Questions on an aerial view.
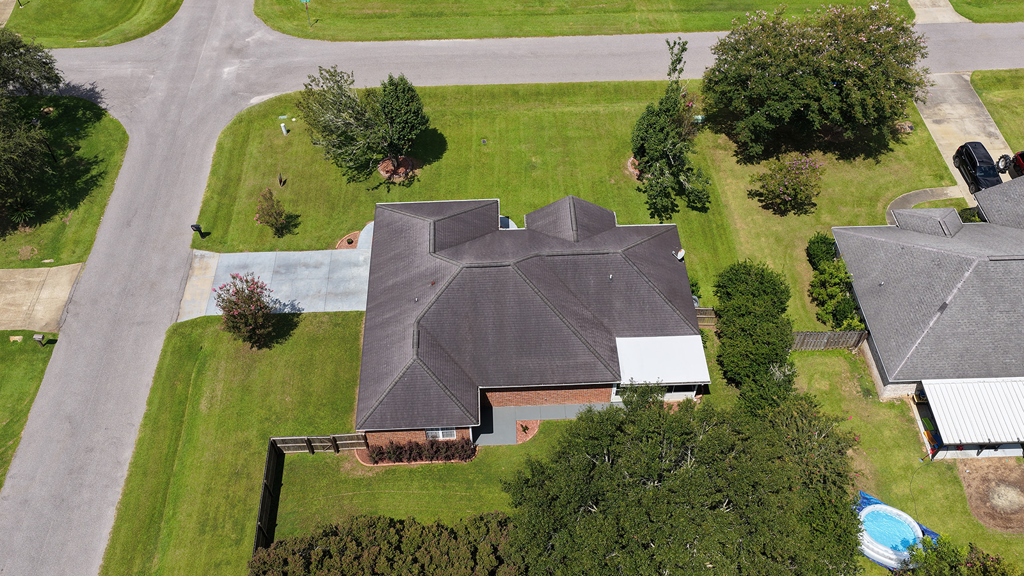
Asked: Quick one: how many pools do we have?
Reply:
one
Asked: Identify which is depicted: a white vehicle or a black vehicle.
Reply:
black vehicle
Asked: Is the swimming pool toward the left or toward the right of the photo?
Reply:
right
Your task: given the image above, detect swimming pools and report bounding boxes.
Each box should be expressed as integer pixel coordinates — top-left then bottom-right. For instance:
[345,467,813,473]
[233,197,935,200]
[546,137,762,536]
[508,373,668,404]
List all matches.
[852,502,926,567]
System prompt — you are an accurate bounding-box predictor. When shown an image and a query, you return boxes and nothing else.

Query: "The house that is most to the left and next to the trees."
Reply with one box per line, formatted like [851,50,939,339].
[355,195,709,446]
